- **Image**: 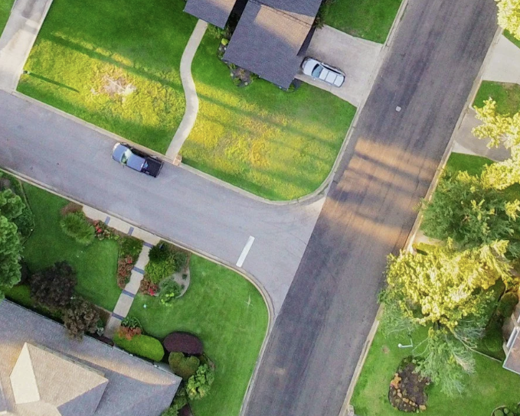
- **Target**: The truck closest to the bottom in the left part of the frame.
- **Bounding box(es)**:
[108,140,167,181]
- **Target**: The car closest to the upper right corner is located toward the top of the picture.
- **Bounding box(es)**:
[297,54,350,89]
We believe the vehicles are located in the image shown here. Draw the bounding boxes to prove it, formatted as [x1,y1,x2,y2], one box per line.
[297,54,350,89]
[108,140,167,181]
